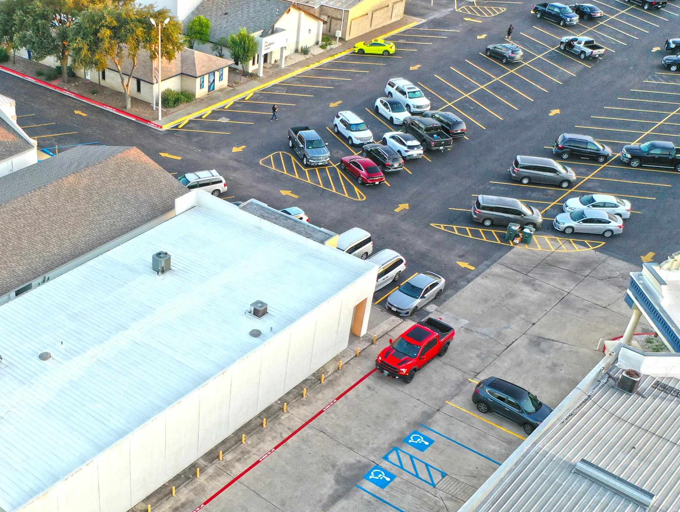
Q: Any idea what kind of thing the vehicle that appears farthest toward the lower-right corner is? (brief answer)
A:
automobile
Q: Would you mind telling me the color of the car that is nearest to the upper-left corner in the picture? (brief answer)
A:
white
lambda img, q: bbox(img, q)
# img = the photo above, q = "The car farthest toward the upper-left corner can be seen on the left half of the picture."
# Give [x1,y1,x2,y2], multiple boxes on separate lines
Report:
[181,169,233,198]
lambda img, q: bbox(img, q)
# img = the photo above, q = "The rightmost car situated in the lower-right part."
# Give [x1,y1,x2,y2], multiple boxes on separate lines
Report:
[469,376,555,435]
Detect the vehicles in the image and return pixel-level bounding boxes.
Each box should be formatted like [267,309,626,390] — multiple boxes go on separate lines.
[340,155,385,185]
[473,194,547,229]
[486,40,525,63]
[512,156,582,187]
[551,133,617,162]
[665,56,680,71]
[371,320,456,385]
[353,38,397,56]
[365,245,411,295]
[336,225,380,260]
[559,35,606,60]
[386,270,448,315]
[401,115,451,150]
[382,131,424,158]
[363,142,405,172]
[536,2,581,26]
[388,75,432,111]
[181,169,233,198]
[554,208,626,236]
[568,2,603,20]
[569,194,641,222]
[420,109,464,137]
[332,111,374,146]
[288,127,331,167]
[624,0,668,10]
[469,376,555,435]
[374,97,412,124]
[622,141,680,168]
